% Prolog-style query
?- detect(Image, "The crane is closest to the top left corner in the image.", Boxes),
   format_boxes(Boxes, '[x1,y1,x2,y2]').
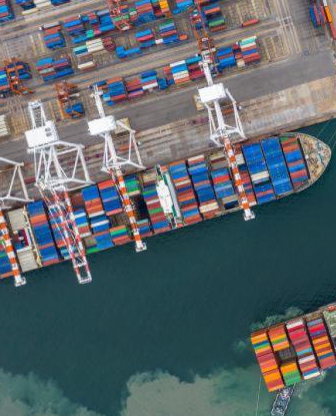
[5,55,43,102]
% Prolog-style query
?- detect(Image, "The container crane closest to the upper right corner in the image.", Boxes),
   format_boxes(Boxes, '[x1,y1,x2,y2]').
[190,7,220,56]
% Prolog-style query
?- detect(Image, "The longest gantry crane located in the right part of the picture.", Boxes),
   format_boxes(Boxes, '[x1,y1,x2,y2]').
[198,53,255,220]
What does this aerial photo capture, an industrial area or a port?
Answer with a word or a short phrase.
port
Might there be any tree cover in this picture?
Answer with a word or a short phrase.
No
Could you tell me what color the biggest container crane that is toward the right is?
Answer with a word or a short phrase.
white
